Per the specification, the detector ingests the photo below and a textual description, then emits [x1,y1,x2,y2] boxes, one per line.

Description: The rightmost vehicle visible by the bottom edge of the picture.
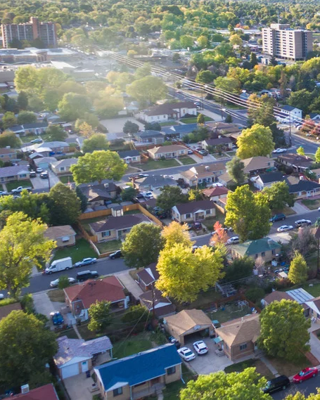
[290,368,320,386]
